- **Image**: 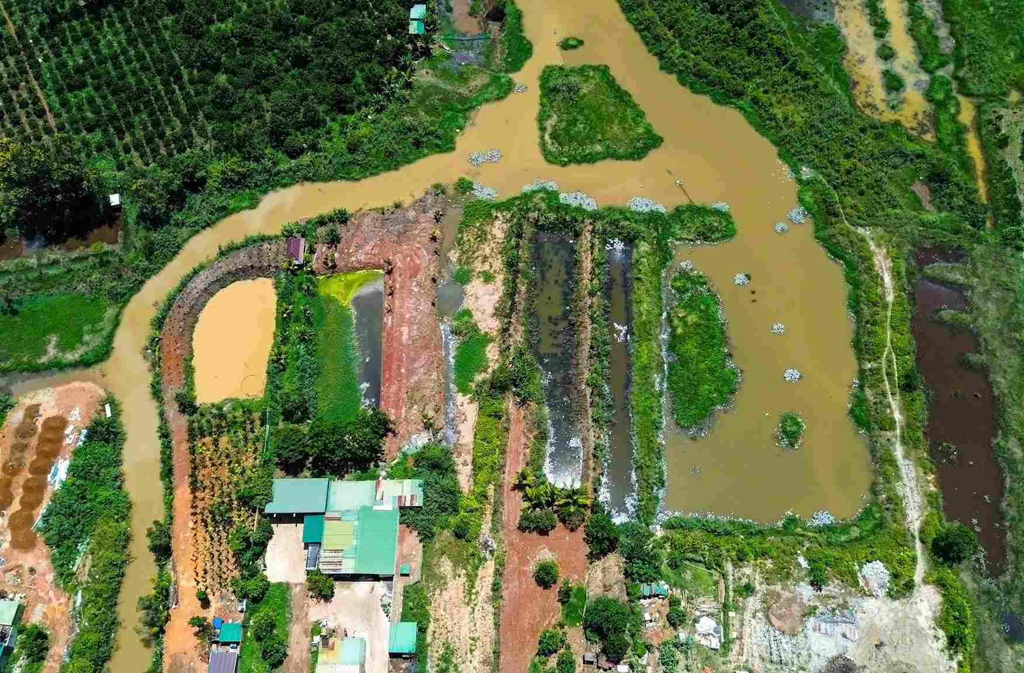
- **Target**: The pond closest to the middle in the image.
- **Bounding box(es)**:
[315,270,385,416]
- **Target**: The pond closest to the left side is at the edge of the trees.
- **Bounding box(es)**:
[0,220,124,262]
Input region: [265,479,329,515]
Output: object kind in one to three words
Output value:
shed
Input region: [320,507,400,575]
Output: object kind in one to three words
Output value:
house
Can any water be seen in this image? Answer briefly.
Yes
